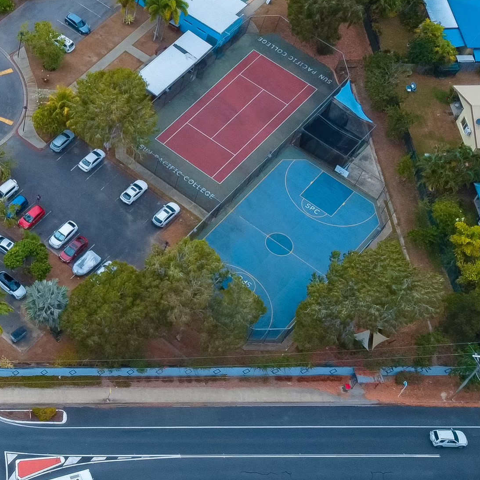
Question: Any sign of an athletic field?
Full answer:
Yes, I can see an athletic field in this picture.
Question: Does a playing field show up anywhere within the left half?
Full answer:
No, looking within the left half, there is no playing field.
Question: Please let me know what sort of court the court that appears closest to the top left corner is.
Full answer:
I'd identify the court that appears closest to the top left corner as a tennis court.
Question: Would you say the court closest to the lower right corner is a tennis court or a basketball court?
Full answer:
In the photo, the court closest to the lower right corner shows up as a basketball court.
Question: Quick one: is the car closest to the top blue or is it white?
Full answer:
From above, the car closest to the top appears blue.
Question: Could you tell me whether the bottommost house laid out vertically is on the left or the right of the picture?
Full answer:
The bottommost house laid out vertically appears in the right half of the scene.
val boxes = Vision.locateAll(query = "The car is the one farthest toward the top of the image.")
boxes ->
[63,10,91,36]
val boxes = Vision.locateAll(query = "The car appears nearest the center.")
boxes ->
[152,200,181,229]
